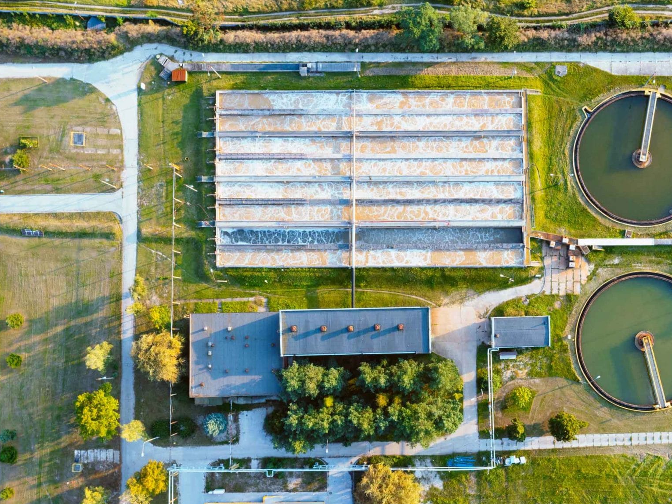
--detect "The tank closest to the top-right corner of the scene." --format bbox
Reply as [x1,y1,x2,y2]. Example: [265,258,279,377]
[573,89,672,227]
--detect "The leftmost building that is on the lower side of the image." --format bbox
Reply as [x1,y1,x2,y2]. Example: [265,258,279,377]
[190,312,284,405]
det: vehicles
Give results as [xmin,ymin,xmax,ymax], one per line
[504,456,528,469]
[208,489,224,495]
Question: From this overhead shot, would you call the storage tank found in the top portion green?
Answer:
Yes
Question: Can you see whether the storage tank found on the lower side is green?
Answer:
Yes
